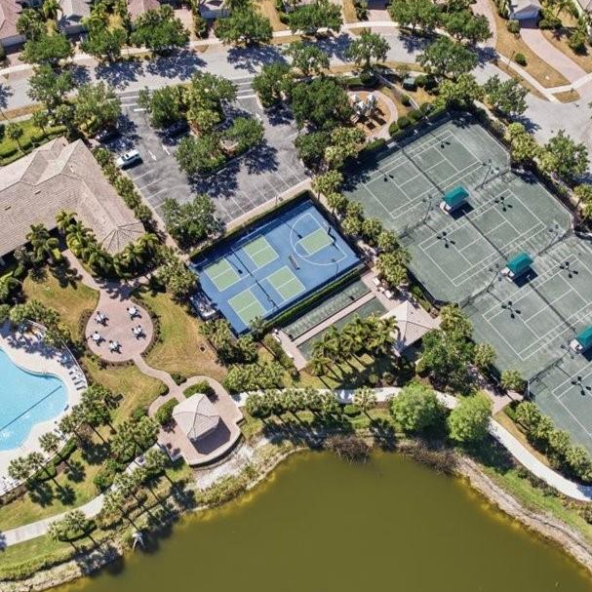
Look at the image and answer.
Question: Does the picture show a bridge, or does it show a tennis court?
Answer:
tennis court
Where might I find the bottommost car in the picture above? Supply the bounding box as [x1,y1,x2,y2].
[119,150,142,167]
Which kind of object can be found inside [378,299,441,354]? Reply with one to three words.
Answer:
building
